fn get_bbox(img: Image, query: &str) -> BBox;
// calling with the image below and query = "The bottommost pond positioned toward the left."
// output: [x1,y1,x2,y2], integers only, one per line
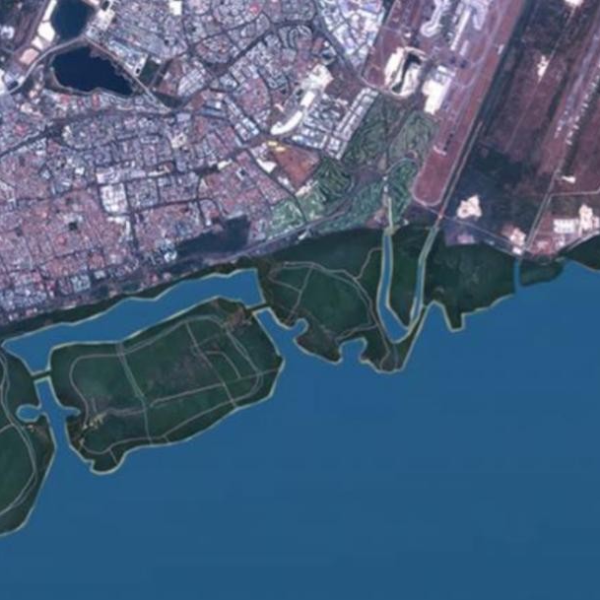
[51,46,132,95]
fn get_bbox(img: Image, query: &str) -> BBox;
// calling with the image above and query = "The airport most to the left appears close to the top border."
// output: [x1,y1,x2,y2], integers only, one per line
[361,0,525,209]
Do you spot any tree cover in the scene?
Yes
